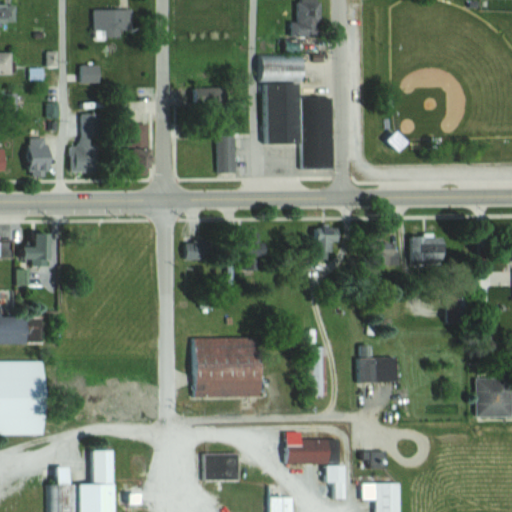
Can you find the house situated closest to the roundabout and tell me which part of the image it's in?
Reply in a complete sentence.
The house situated closest to the roundabout is located in the bottom right region of the scene.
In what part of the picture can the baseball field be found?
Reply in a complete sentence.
The baseball field appears toward the top right of the photo.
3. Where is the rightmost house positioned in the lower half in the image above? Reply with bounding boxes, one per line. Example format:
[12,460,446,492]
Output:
[475,377,512,422]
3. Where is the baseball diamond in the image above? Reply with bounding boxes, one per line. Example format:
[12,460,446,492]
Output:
[388,0,512,140]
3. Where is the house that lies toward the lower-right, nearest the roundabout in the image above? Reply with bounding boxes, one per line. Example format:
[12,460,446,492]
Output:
[360,450,388,470]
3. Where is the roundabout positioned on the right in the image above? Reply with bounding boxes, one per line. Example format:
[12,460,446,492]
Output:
[384,426,431,468]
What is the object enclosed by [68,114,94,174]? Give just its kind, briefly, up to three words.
house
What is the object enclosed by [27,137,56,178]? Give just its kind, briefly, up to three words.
house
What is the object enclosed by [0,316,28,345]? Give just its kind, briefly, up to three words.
building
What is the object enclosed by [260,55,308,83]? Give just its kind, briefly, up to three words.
barn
